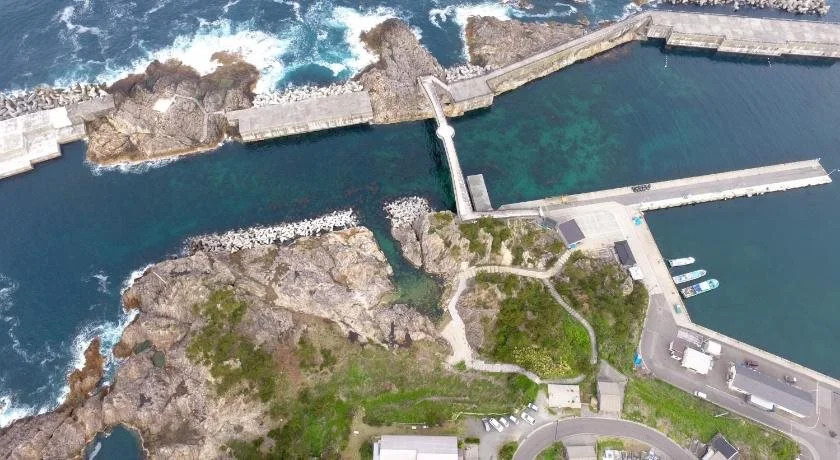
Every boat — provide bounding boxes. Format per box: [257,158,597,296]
[680,280,720,298]
[673,270,707,283]
[668,257,696,266]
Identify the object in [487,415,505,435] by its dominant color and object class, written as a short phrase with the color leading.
white vehicle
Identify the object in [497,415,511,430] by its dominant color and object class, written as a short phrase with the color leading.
white vehicle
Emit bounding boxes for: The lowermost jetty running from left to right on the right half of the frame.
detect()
[501,159,831,215]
